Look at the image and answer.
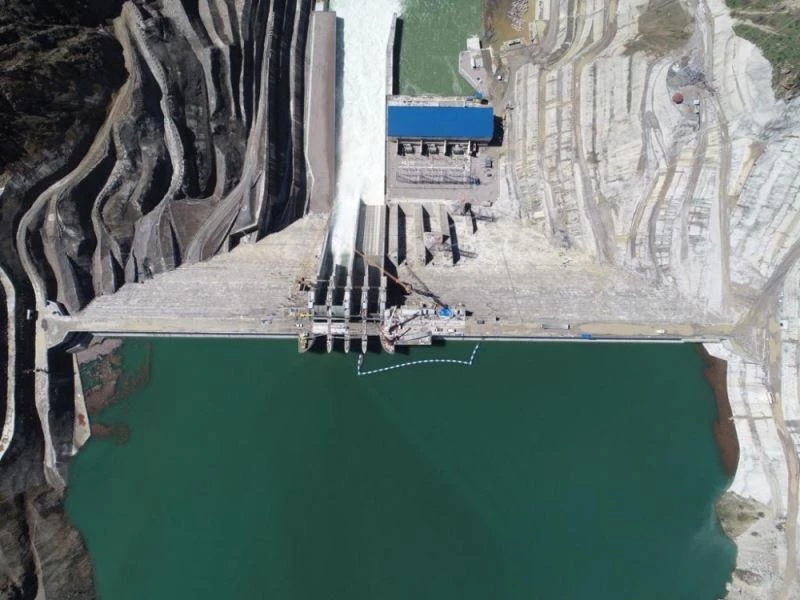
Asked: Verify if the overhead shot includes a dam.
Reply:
Yes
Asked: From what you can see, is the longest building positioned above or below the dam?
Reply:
above it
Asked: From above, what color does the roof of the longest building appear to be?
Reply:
blue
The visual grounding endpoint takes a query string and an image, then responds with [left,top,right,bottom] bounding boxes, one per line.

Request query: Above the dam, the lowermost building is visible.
[388,97,494,157]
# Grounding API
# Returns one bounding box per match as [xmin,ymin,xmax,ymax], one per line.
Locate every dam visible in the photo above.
[67,205,741,354]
